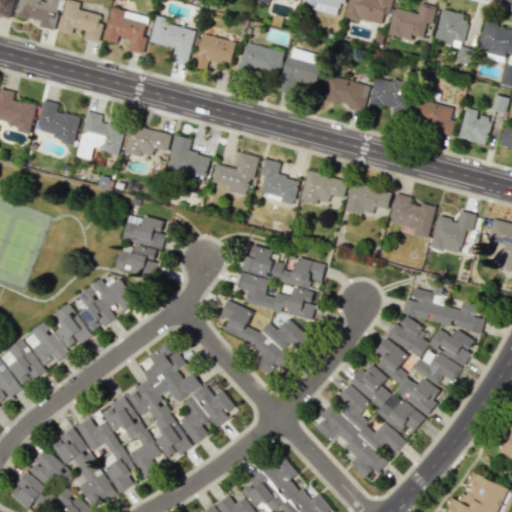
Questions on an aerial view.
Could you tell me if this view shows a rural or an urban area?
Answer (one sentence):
The area shown here is urban.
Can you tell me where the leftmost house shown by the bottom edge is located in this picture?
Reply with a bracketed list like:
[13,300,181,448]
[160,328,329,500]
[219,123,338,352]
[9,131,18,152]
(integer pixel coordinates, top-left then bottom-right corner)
[14,472,46,508]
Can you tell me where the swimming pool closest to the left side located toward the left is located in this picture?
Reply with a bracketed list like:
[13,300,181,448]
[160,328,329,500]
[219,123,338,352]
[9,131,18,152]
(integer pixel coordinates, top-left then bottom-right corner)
[2,130,28,144]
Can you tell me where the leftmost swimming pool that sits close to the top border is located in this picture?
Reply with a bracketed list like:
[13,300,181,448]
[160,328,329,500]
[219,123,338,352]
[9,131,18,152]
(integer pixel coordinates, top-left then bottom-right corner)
[167,4,192,18]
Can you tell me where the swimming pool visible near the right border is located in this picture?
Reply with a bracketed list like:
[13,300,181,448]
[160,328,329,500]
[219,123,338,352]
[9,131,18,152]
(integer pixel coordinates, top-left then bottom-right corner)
[479,64,502,79]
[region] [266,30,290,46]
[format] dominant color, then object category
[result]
white swimming pool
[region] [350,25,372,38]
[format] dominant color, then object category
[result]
blue swimming pool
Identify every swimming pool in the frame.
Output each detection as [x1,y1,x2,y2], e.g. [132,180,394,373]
[128,161,150,174]
[479,64,502,79]
[167,4,192,18]
[350,25,372,38]
[2,130,28,144]
[266,30,290,46]
[271,3,292,17]
[42,138,66,156]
